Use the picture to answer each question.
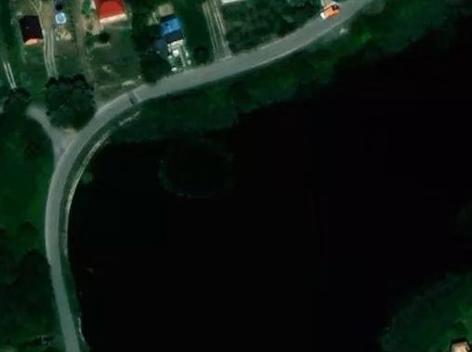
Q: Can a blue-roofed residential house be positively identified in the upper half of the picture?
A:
Yes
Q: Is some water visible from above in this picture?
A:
Yes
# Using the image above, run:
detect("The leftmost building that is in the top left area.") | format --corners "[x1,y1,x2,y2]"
[21,13,44,43]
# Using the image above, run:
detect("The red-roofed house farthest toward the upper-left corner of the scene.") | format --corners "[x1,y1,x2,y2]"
[95,0,125,22]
